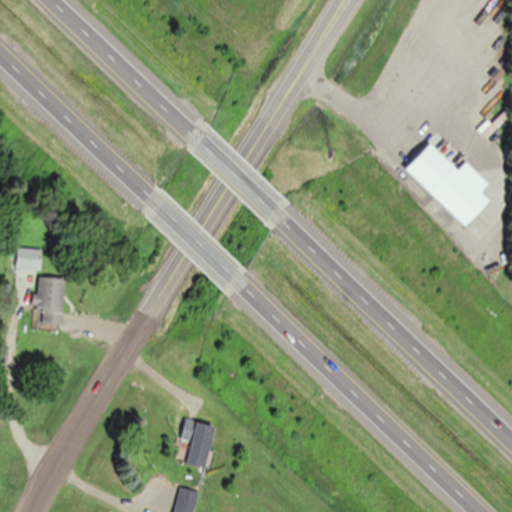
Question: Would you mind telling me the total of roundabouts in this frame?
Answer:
none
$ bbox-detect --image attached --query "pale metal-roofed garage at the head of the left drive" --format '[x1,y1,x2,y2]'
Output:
[16,248,42,272]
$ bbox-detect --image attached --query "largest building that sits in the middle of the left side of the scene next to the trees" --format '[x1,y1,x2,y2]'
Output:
[32,277,65,331]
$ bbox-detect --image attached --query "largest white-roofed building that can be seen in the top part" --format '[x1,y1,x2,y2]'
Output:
[405,144,492,228]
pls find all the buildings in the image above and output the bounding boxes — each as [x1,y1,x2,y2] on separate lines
[16,248,42,272]
[175,487,198,512]
[174,419,215,468]
[405,144,492,228]
[32,277,65,331]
